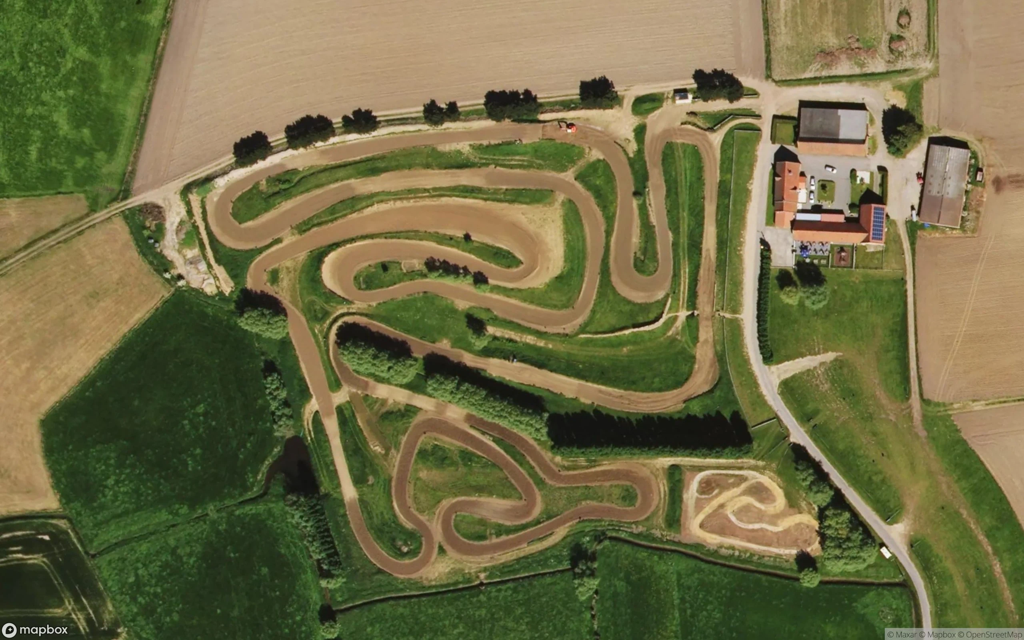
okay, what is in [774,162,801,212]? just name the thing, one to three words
house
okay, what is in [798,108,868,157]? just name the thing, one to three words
barn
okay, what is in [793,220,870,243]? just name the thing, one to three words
barn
